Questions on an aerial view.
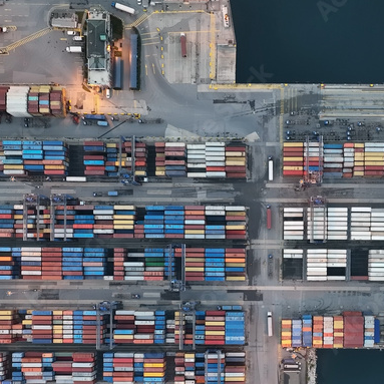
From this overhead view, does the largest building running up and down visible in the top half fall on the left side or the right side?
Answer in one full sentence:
It is on the left.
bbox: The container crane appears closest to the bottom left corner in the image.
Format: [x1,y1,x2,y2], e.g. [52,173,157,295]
[98,300,133,349]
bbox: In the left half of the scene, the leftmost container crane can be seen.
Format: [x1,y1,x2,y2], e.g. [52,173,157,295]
[24,195,52,242]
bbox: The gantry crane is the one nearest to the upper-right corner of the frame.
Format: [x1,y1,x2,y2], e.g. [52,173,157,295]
[302,137,332,189]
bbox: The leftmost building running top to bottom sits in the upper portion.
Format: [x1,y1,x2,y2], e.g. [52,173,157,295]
[86,9,113,91]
